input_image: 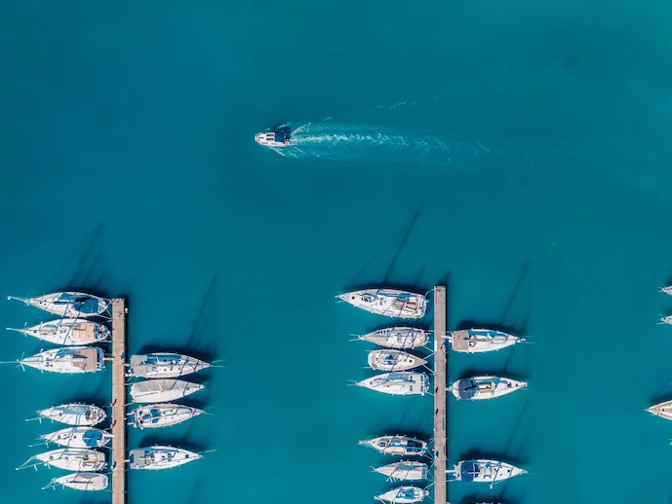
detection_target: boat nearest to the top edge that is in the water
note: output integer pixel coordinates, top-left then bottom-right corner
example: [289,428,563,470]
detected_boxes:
[253,130,295,146]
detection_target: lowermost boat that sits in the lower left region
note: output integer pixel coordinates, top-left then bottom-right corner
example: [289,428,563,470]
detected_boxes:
[46,470,113,491]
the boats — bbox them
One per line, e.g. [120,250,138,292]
[123,376,216,404]
[642,401,672,421]
[9,318,113,348]
[124,351,218,380]
[253,130,295,146]
[46,470,113,491]
[2,344,114,374]
[32,425,114,449]
[358,325,434,349]
[13,288,113,318]
[444,373,536,399]
[444,326,528,353]
[337,285,432,315]
[30,401,113,426]
[370,458,436,482]
[493,335,509,344]
[369,485,435,504]
[357,432,435,457]
[124,400,216,429]
[19,447,112,472]
[347,371,435,397]
[444,458,537,486]
[122,444,211,472]
[361,348,434,372]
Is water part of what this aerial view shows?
Yes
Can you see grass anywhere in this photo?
No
